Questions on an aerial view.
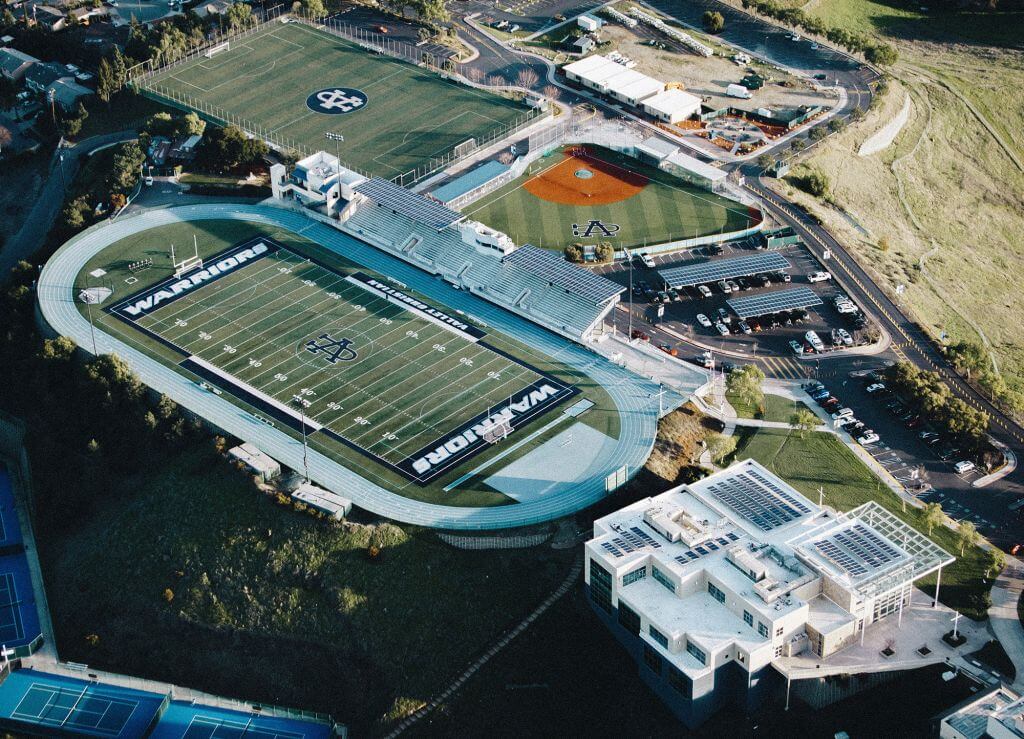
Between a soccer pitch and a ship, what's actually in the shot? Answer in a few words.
soccer pitch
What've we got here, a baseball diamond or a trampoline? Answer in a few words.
baseball diamond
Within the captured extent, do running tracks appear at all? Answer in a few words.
Yes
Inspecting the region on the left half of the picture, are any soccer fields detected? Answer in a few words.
Yes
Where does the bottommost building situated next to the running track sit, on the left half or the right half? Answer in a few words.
right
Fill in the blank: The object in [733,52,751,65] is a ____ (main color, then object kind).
white vehicle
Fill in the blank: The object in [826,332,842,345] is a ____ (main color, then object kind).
gray vehicle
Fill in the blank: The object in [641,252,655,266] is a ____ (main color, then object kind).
white car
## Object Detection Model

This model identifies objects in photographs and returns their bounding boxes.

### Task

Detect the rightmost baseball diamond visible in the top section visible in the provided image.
[453,144,768,258]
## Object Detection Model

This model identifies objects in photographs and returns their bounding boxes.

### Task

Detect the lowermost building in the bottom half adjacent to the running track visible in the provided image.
[583,456,955,735]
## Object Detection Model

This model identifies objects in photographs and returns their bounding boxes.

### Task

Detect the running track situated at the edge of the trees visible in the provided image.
[37,203,658,530]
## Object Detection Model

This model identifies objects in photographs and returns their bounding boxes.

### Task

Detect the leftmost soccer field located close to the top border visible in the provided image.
[128,15,542,189]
